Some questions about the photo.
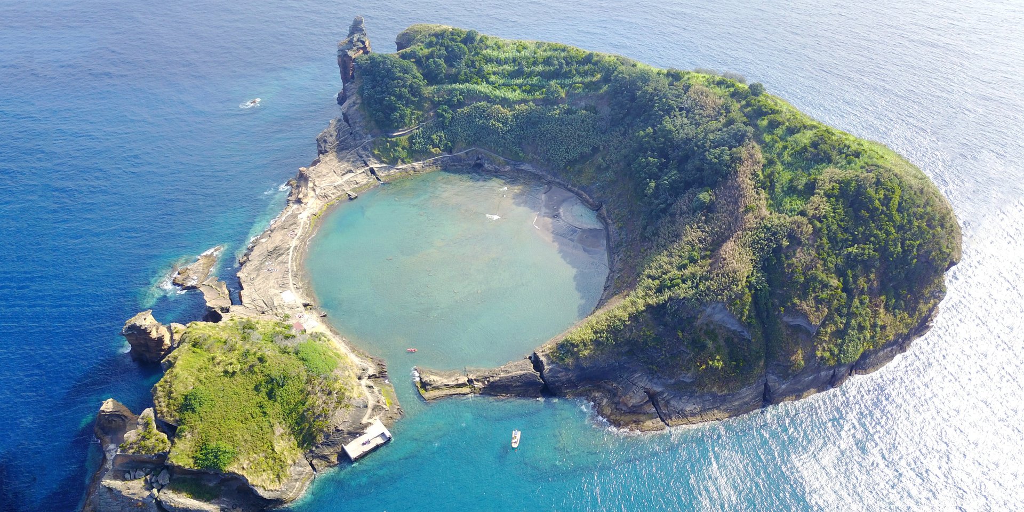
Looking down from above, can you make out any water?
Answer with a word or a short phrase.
Yes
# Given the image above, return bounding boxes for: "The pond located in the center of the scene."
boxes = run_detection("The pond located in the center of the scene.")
[305,173,600,382]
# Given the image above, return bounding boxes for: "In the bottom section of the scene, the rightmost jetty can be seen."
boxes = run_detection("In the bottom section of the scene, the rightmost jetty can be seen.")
[342,419,392,466]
